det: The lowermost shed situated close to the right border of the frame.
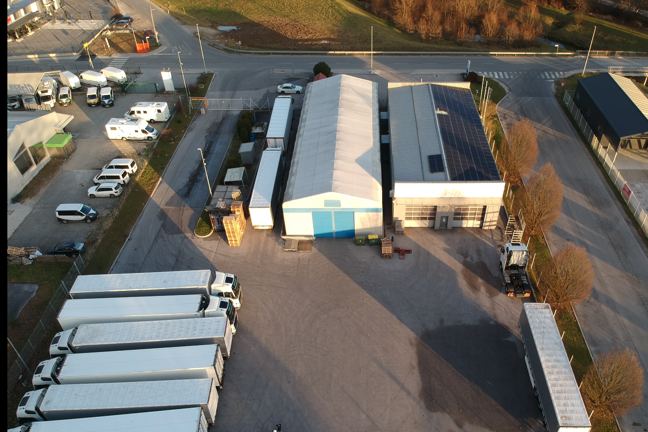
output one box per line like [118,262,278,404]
[572,70,648,168]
